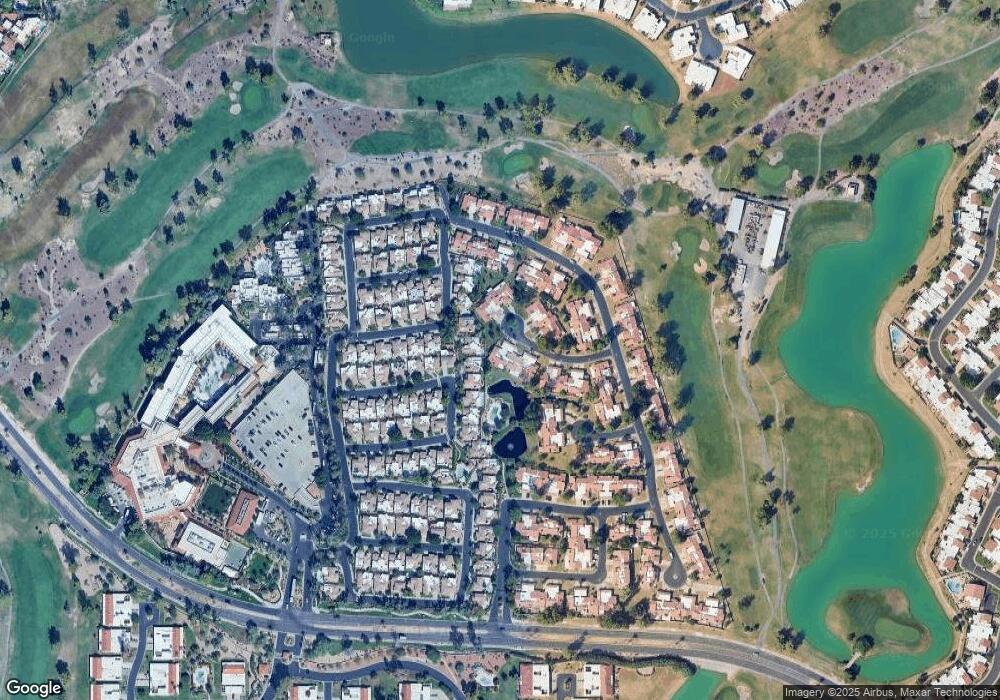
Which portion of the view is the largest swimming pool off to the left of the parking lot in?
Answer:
left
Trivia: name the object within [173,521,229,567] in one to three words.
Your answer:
building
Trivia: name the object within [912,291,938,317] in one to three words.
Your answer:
house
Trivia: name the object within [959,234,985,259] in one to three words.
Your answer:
house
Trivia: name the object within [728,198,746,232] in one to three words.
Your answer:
shed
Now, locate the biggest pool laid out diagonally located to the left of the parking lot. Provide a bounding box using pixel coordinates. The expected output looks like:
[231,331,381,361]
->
[191,350,230,404]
